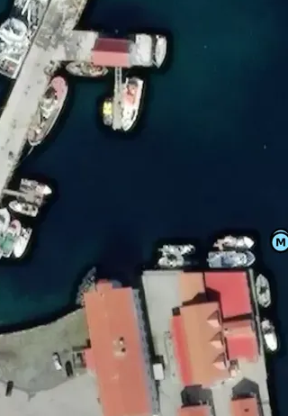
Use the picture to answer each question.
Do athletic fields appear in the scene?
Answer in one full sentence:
No, there is no athletic field in the image.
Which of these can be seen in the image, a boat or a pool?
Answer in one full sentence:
Visible in the photo is a boat.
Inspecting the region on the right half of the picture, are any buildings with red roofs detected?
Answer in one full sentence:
Yes, a building with a red roof appears on the right half of the picture.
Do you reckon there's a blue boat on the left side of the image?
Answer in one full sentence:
No, no blue boat is visible on the left side of the image.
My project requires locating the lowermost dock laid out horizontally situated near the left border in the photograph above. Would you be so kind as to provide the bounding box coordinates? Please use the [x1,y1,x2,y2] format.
[3,189,42,205]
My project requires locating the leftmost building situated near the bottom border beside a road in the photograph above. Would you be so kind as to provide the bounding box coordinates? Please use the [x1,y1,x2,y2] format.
[75,281,159,416]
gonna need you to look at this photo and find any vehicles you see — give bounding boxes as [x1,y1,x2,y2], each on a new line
[53,355,62,370]
[65,362,73,376]
[6,382,13,395]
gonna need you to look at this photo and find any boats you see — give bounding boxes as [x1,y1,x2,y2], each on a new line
[208,251,255,269]
[0,207,9,242]
[28,76,64,146]
[261,320,275,352]
[161,243,195,254]
[102,99,113,127]
[0,220,21,262]
[157,254,185,268]
[119,78,145,131]
[65,63,109,79]
[16,226,35,259]
[8,202,39,219]
[154,35,168,68]
[256,273,271,308]
[20,176,52,193]
[216,238,254,250]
